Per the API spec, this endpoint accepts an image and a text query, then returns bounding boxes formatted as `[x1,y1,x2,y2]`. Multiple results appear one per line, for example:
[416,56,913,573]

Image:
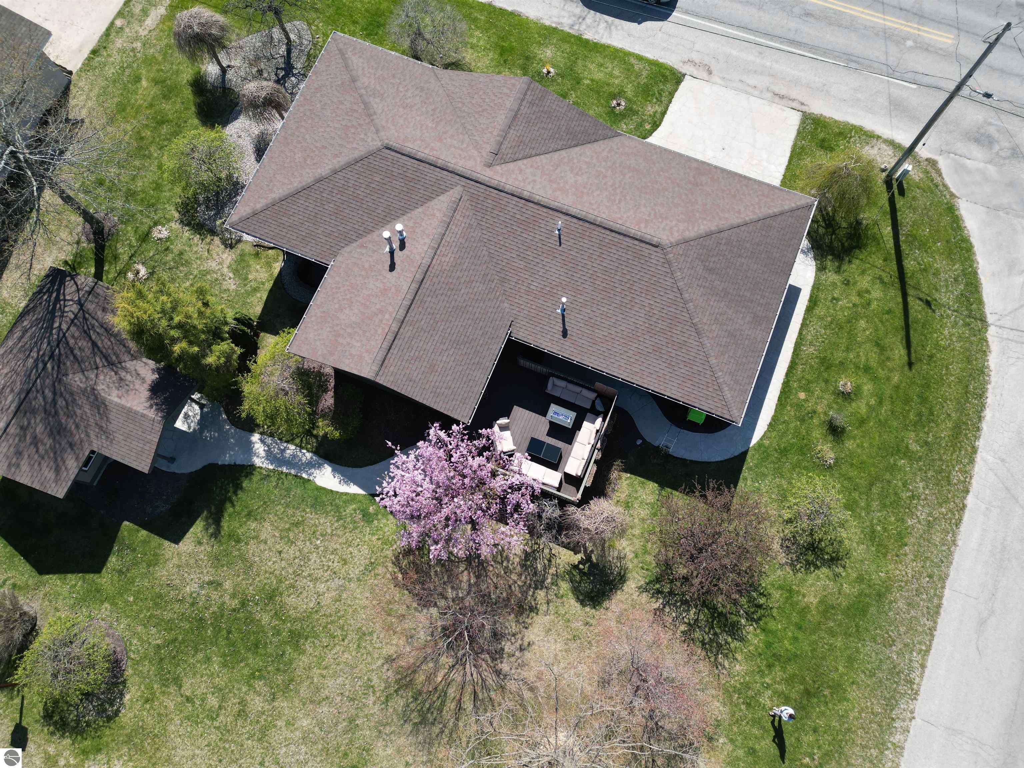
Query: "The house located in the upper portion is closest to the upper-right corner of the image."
[226,32,816,425]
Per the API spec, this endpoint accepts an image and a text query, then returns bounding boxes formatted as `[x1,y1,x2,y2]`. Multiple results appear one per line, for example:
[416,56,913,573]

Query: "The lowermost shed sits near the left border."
[0,267,207,499]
